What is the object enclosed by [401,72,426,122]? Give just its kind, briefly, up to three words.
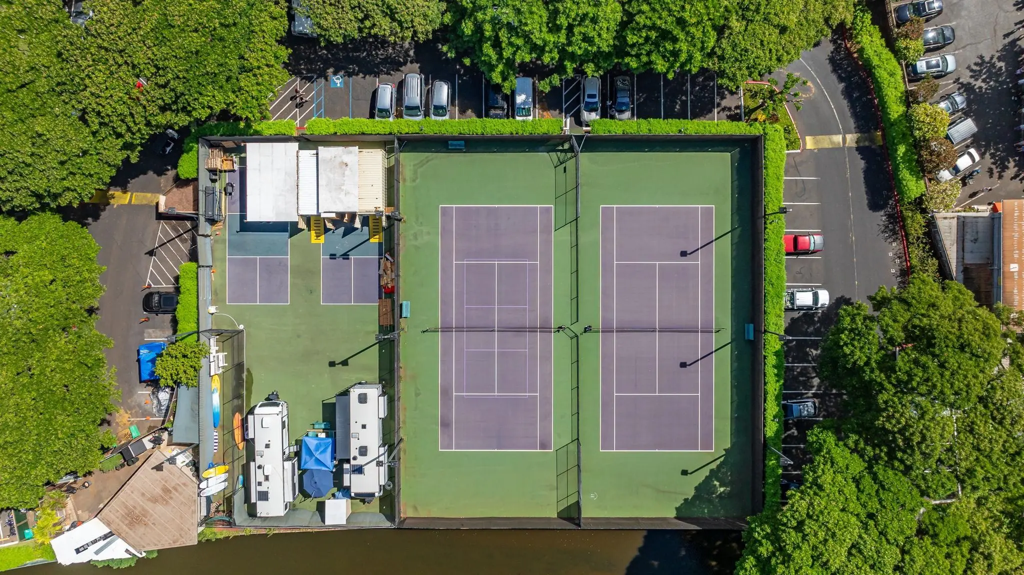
vehicle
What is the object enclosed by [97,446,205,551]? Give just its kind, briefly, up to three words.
building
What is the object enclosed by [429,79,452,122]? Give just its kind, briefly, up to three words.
car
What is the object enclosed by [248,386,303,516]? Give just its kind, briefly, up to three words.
camper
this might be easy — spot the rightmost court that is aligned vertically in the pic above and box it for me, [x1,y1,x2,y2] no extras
[600,205,714,451]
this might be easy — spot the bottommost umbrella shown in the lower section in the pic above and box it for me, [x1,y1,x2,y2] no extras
[303,469,333,497]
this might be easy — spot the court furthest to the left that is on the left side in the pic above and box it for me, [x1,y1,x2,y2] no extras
[227,166,289,304]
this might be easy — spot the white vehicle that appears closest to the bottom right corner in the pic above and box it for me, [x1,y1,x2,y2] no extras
[781,286,829,311]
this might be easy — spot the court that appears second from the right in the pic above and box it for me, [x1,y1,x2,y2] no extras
[440,205,553,451]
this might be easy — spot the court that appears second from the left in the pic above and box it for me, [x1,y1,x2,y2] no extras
[321,212,383,304]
